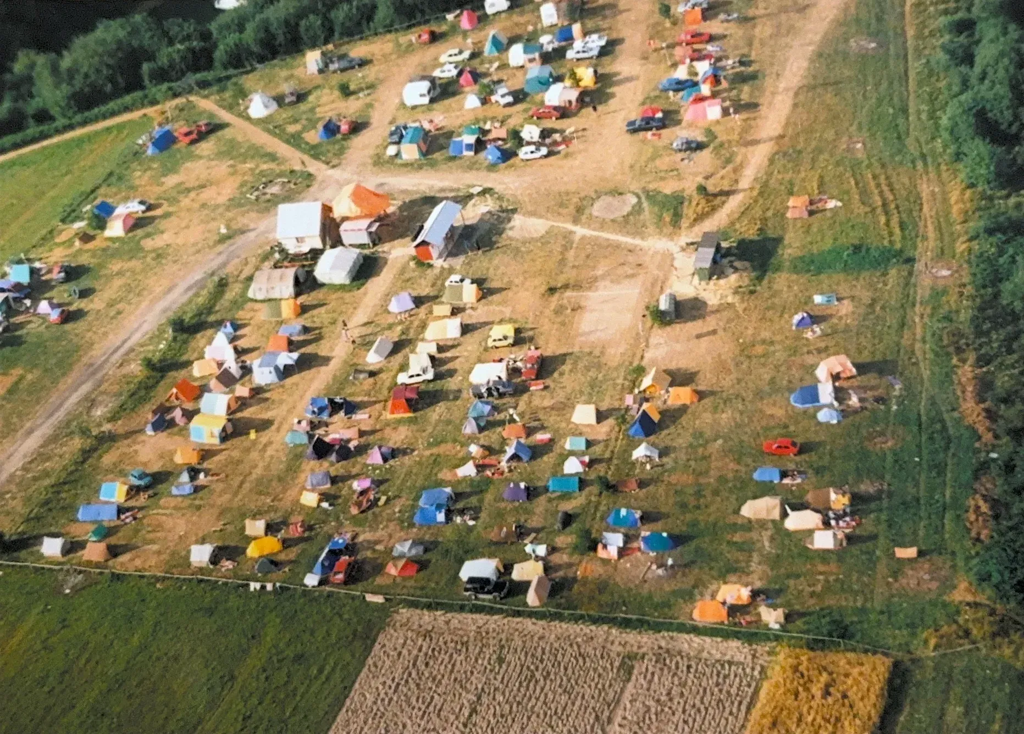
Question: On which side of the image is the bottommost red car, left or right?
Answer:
left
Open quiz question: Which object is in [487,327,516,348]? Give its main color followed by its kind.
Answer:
yellow vehicle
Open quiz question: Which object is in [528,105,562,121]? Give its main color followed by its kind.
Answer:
red car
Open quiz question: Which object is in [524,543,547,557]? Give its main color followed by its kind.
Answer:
white tent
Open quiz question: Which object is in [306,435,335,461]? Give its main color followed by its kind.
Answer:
black tent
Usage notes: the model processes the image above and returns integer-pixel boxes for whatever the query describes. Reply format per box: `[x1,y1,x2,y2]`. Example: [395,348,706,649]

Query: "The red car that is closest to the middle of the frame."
[522,350,542,380]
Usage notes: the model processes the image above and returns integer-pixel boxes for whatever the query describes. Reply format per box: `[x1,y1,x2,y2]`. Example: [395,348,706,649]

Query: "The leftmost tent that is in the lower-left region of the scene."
[41,536,67,557]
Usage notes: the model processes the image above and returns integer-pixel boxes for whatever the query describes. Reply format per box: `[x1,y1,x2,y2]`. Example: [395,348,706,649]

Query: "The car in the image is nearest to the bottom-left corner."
[126,464,156,485]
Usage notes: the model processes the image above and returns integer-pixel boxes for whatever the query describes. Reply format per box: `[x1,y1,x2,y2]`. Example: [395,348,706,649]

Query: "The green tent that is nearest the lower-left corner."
[83,523,110,542]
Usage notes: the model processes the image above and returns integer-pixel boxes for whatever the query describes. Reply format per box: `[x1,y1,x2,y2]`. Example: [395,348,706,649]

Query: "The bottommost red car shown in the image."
[329,557,355,583]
